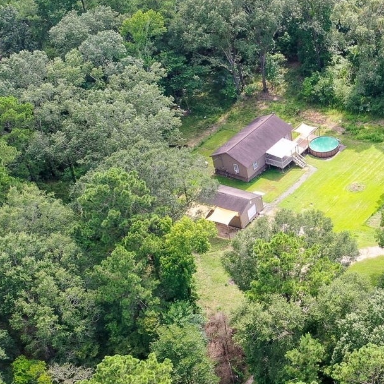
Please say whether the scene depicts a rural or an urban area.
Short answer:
rural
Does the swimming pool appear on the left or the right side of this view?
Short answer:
right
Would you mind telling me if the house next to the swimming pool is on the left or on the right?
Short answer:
right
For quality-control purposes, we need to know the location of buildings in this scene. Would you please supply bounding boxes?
[191,180,263,226]
[210,114,308,183]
